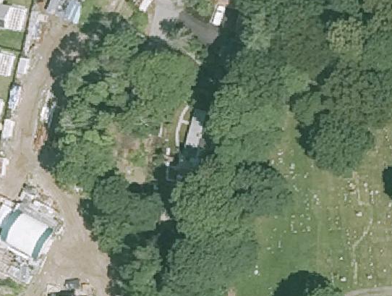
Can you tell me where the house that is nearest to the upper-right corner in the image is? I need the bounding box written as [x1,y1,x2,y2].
[184,107,208,148]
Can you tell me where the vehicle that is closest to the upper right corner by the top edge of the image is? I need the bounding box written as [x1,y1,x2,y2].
[210,5,226,27]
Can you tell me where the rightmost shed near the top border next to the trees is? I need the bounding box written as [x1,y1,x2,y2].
[46,0,85,24]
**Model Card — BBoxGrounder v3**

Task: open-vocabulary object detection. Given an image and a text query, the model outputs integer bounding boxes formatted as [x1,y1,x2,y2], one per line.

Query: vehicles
[210,5,226,27]
[136,0,151,11]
